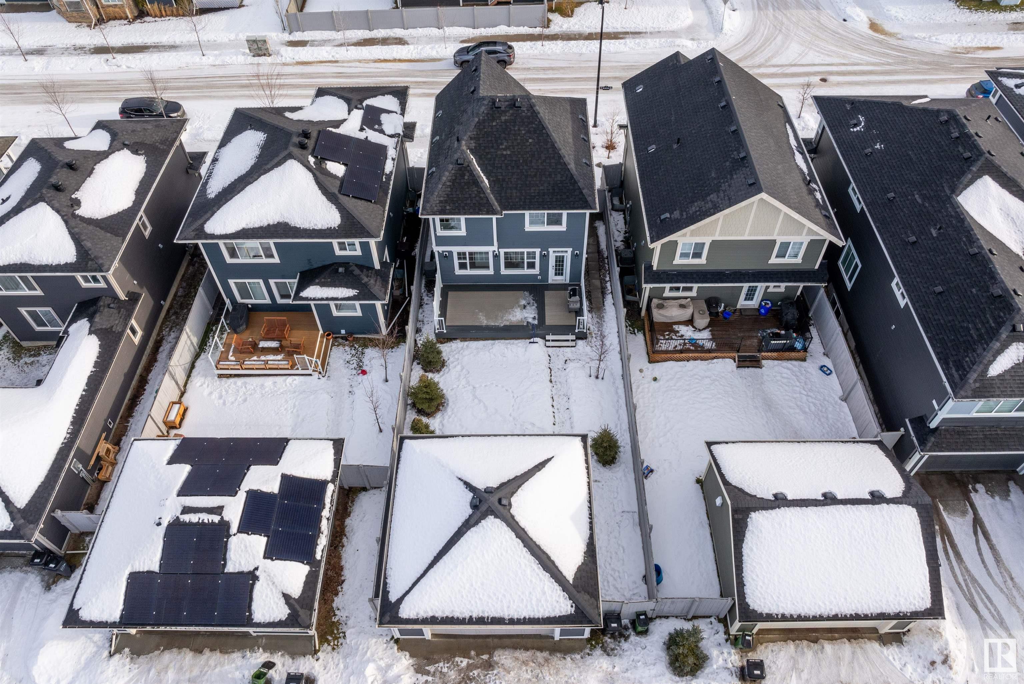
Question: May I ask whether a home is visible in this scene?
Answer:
Yes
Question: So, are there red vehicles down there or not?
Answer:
No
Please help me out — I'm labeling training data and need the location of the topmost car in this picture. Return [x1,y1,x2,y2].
[455,37,518,70]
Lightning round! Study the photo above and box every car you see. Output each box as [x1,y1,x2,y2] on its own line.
[971,74,994,98]
[455,37,518,70]
[120,90,194,119]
